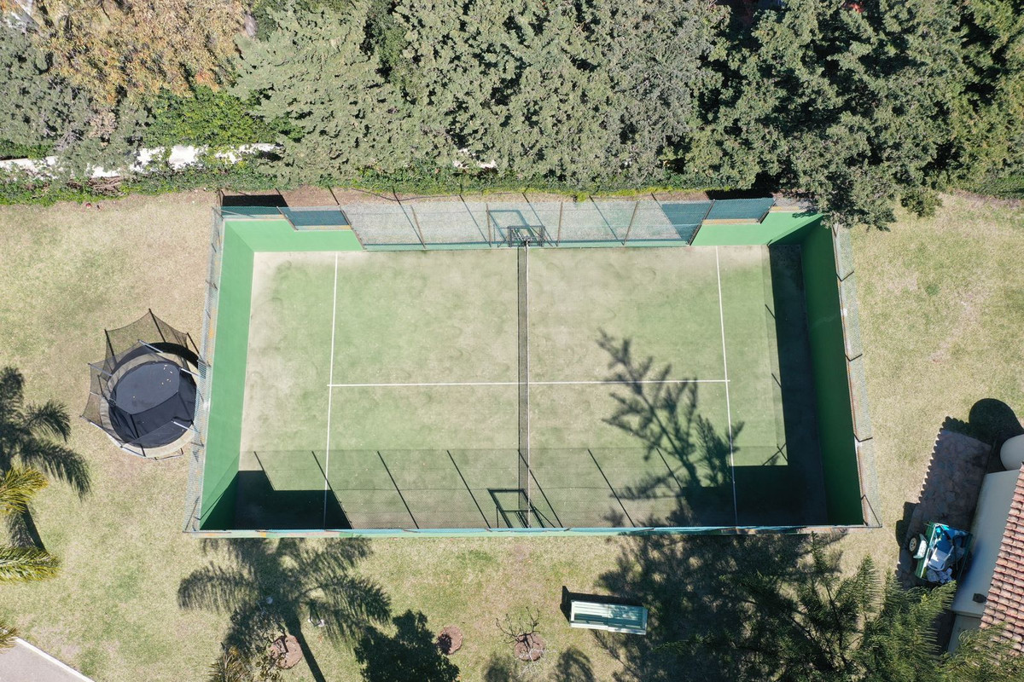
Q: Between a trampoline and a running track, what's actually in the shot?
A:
trampoline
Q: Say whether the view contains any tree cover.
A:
Yes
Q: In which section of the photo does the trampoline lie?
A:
left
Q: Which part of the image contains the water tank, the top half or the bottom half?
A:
bottom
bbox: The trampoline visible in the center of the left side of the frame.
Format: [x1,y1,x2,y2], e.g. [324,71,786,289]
[77,339,205,458]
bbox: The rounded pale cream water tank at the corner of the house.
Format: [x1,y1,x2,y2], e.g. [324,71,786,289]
[988,422,1024,466]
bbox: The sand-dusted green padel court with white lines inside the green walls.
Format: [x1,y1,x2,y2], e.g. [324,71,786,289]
[235,244,828,529]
